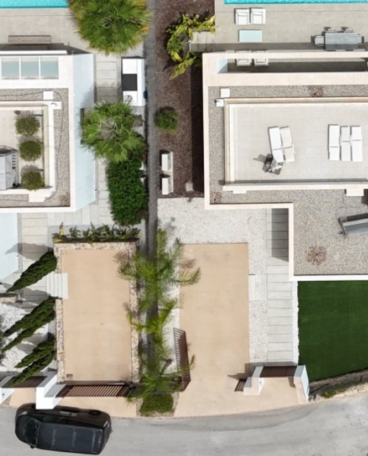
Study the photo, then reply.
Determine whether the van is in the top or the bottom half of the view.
bottom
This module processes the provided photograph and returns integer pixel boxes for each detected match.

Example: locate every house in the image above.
[204,50,368,281]
[0,50,99,280]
